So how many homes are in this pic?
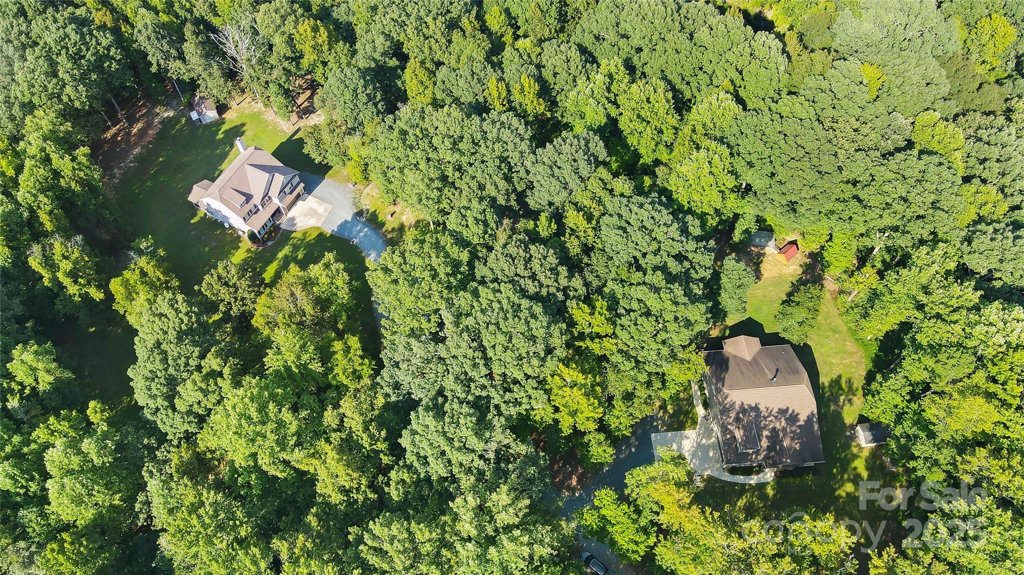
two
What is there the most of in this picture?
trees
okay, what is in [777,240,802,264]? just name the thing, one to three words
shed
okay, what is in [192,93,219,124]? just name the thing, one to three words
shed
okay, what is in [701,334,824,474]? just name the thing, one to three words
house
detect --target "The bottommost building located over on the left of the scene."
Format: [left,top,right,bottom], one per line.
[187,135,305,239]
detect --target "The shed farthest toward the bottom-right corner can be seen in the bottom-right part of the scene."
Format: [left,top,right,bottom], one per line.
[855,422,891,447]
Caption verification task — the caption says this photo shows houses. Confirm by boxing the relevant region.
[187,135,305,239]
[701,334,824,474]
